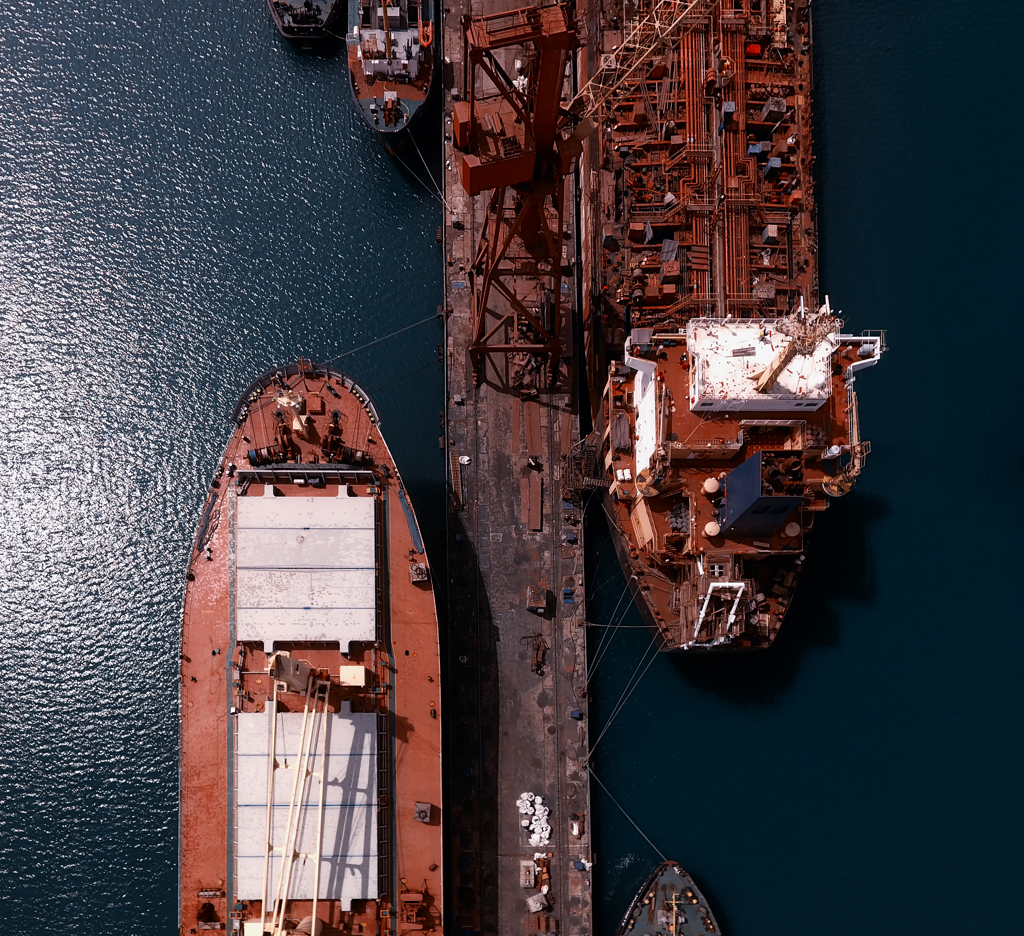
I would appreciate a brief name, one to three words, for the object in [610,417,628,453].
boat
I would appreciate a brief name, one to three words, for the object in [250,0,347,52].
boat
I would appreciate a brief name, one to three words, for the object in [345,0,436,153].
ship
